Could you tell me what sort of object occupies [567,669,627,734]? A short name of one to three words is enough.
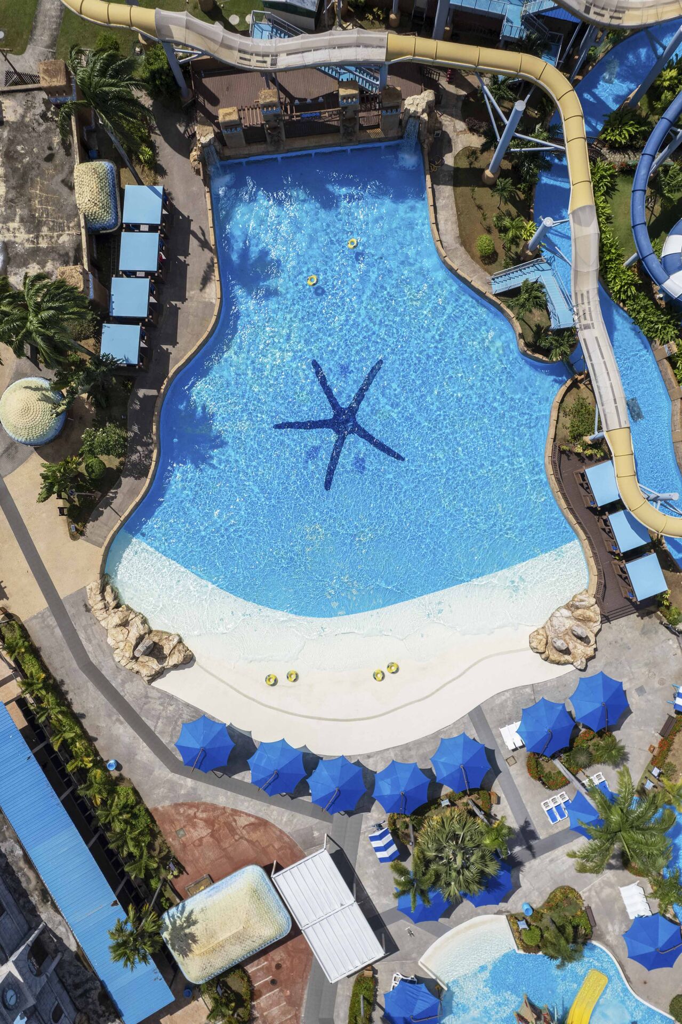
umbrella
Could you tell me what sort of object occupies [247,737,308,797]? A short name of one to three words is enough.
umbrella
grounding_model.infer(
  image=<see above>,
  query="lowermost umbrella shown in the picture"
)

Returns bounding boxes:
[382,967,451,1024]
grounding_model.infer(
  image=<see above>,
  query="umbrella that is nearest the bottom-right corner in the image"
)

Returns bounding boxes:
[621,904,682,965]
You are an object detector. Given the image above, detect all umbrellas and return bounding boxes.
[371,757,431,822]
[457,853,511,908]
[306,753,367,814]
[247,737,308,797]
[176,714,236,776]
[394,862,452,924]
[567,669,627,734]
[382,967,451,1024]
[429,730,490,795]
[621,904,682,965]
[514,695,574,758]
